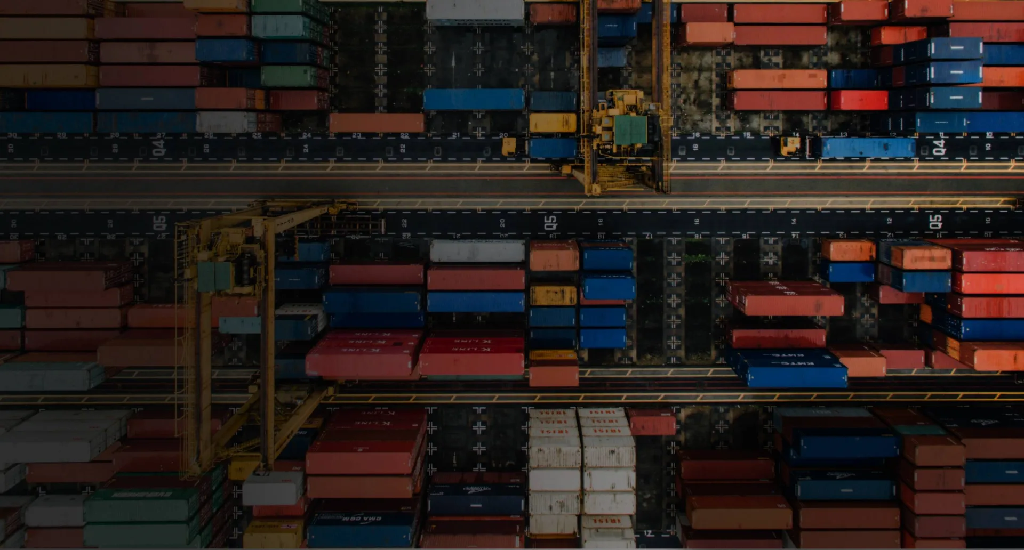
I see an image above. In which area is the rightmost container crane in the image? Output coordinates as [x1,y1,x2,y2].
[548,0,673,197]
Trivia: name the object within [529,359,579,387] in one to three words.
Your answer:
shipping container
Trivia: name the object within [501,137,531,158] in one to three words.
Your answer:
truck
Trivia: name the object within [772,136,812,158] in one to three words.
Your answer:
truck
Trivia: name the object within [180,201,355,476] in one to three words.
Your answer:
container crane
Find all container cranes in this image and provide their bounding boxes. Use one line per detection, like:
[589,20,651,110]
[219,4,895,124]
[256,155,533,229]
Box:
[180,201,355,476]
[548,0,673,197]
